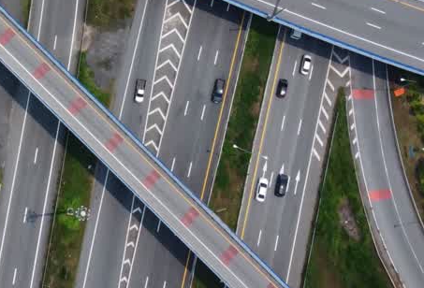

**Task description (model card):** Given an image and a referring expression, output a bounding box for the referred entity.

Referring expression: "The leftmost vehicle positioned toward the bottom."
[255,177,269,203]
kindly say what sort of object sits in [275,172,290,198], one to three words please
car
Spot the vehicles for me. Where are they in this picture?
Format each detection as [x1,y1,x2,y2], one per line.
[300,53,313,76]
[275,172,290,198]
[212,76,227,103]
[255,177,269,203]
[290,32,301,46]
[134,76,148,104]
[275,76,288,101]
